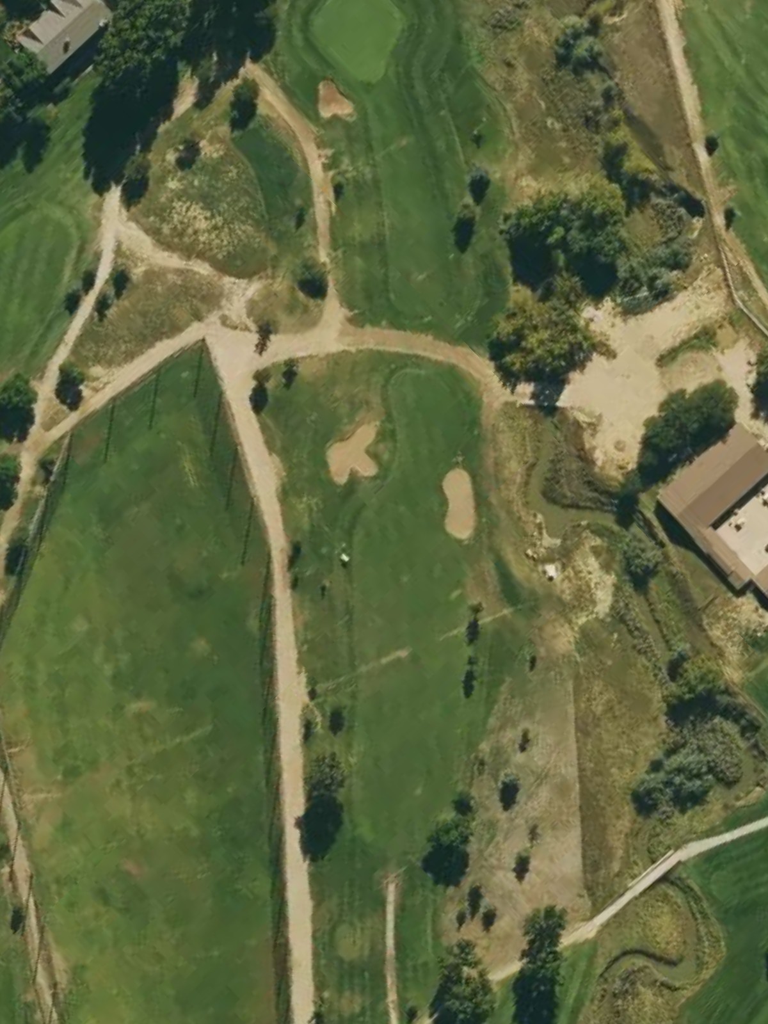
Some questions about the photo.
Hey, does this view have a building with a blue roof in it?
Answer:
No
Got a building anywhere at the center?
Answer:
No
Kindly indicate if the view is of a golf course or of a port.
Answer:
golf course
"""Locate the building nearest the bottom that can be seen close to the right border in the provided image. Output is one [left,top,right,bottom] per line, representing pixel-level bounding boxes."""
[659,422,768,595]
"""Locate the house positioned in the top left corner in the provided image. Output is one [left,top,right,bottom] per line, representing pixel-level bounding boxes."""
[19,0,110,70]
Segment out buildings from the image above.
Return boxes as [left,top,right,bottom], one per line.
[19,0,110,70]
[659,422,768,595]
